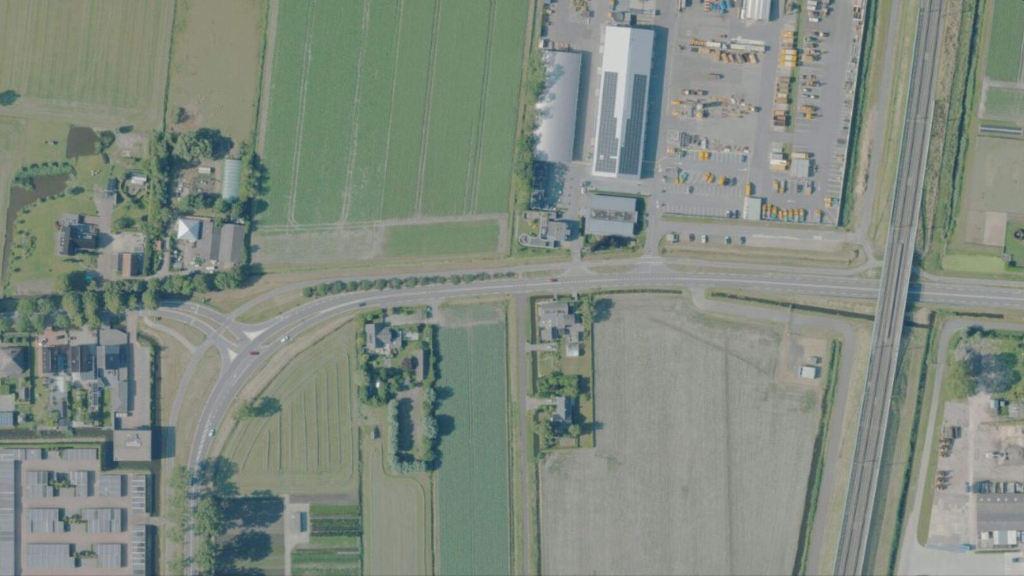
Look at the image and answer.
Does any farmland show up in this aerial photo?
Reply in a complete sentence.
Yes, there's farmland in this view.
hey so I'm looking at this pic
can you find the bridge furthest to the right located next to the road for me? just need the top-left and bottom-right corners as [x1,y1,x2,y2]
[834,0,947,576]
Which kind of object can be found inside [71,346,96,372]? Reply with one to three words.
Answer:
house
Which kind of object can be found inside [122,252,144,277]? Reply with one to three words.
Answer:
barn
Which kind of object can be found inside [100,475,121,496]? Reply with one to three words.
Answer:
shed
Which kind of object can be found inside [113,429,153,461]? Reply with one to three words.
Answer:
building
